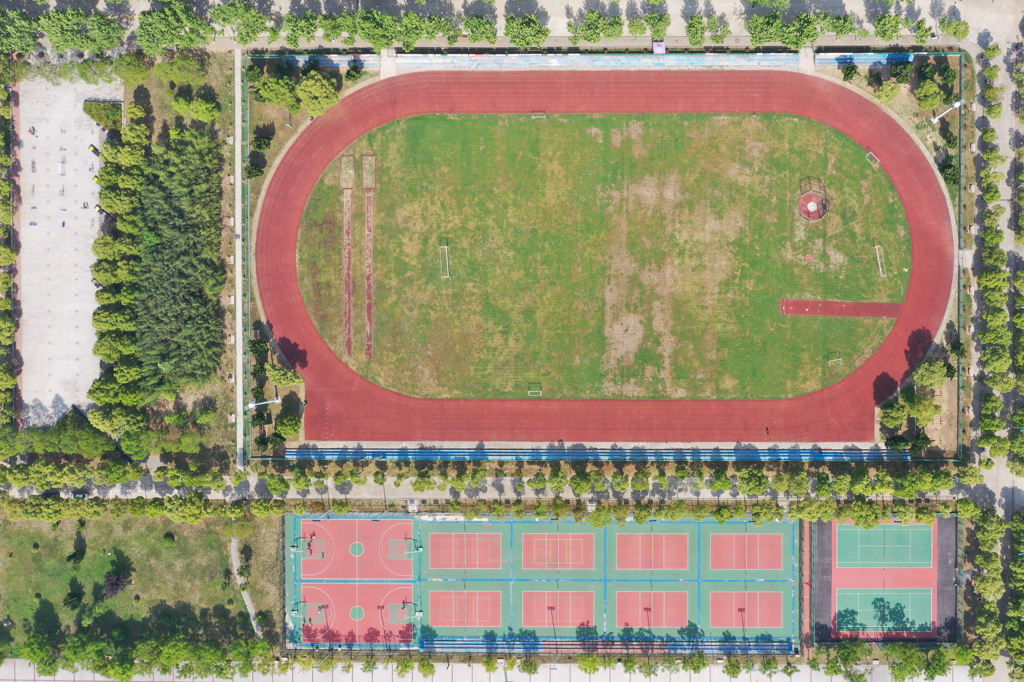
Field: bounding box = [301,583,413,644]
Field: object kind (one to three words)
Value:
basketball court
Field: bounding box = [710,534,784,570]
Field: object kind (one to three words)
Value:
sports court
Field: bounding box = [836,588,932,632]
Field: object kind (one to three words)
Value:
tennis court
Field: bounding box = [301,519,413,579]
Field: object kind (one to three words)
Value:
basketball court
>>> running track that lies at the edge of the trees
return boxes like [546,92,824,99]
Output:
[250,66,960,449]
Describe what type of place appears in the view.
sports ground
